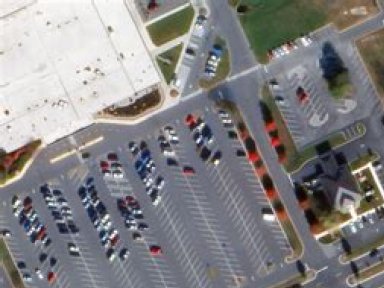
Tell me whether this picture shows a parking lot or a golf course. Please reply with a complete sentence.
It's a parking lot.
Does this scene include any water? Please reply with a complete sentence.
No, there is no water in the image.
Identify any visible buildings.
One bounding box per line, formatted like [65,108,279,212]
[316,150,361,213]
[0,0,160,155]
